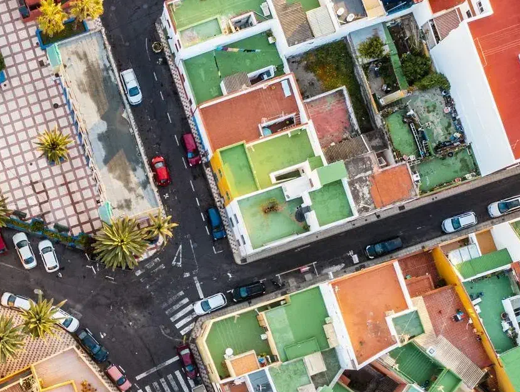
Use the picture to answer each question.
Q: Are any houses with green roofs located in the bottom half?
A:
Yes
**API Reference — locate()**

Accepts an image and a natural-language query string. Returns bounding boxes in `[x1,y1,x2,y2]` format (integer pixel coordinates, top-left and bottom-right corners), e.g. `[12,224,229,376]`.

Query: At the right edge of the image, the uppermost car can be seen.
[485,194,520,218]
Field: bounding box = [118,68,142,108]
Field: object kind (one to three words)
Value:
car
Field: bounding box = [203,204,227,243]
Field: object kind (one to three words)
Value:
car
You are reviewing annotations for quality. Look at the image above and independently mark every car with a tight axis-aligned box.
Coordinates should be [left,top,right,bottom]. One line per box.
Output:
[362,235,403,259]
[77,328,107,363]
[101,357,134,392]
[203,204,227,243]
[150,154,170,190]
[438,212,477,234]
[13,233,37,269]
[227,280,267,302]
[190,291,230,316]
[48,305,82,333]
[36,239,61,275]
[118,68,142,108]
[176,343,199,380]
[485,194,520,218]
[179,132,203,170]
